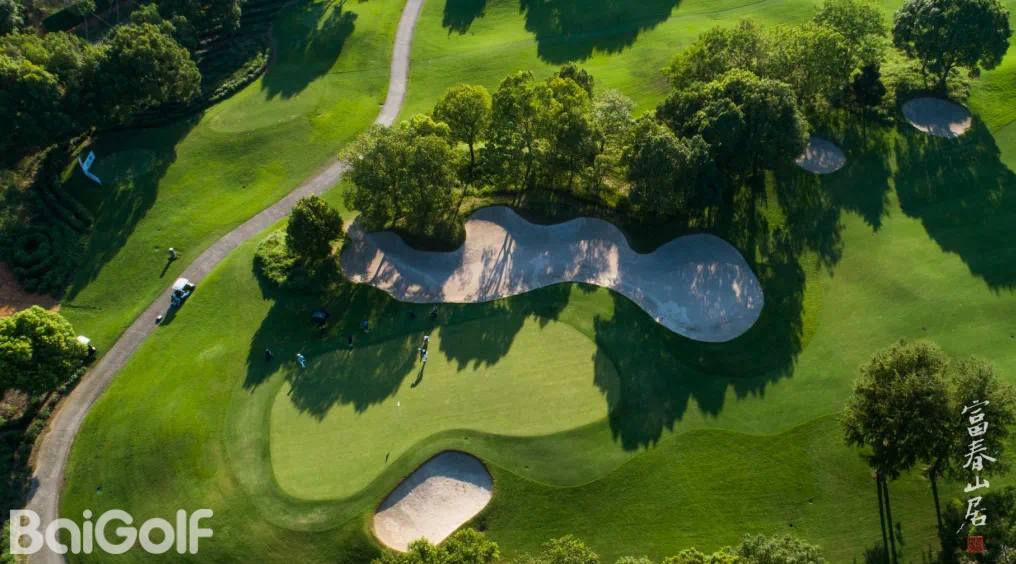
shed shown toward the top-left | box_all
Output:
[30,7,82,40]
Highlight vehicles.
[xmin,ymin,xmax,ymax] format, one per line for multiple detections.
[172,283,191,306]
[76,336,95,359]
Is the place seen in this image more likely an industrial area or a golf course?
golf course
